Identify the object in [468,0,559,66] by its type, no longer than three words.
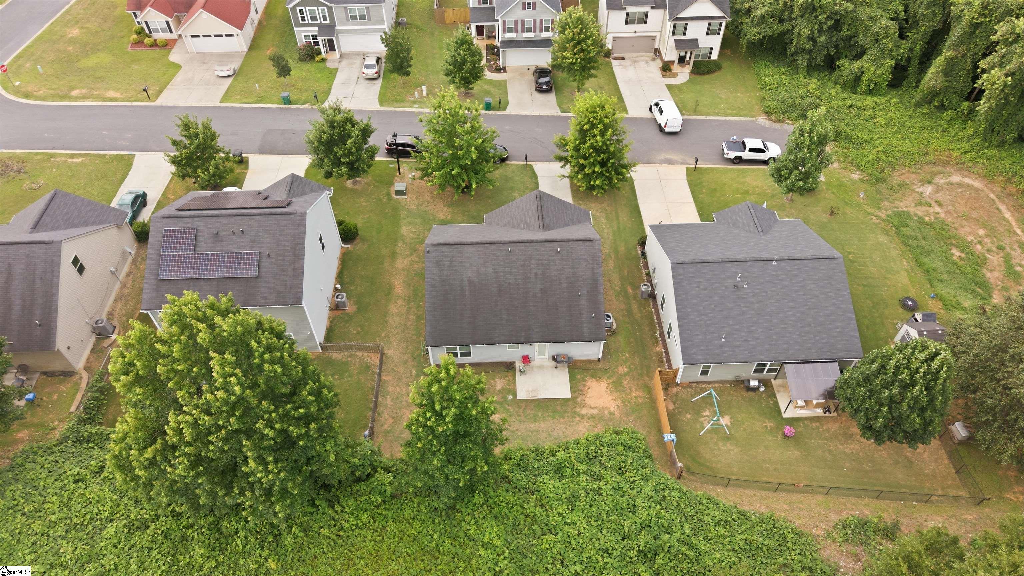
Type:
house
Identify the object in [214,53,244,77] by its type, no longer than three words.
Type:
car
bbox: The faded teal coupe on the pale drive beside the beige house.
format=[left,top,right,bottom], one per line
[114,186,151,224]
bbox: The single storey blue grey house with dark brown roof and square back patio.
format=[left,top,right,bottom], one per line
[423,190,608,364]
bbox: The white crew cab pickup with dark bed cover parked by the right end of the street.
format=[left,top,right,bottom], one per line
[723,137,785,165]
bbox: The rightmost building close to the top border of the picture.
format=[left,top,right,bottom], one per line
[596,0,733,73]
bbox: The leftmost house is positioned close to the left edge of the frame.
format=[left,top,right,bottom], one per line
[0,188,131,373]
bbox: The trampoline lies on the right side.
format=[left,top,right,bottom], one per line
[900,291,921,311]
